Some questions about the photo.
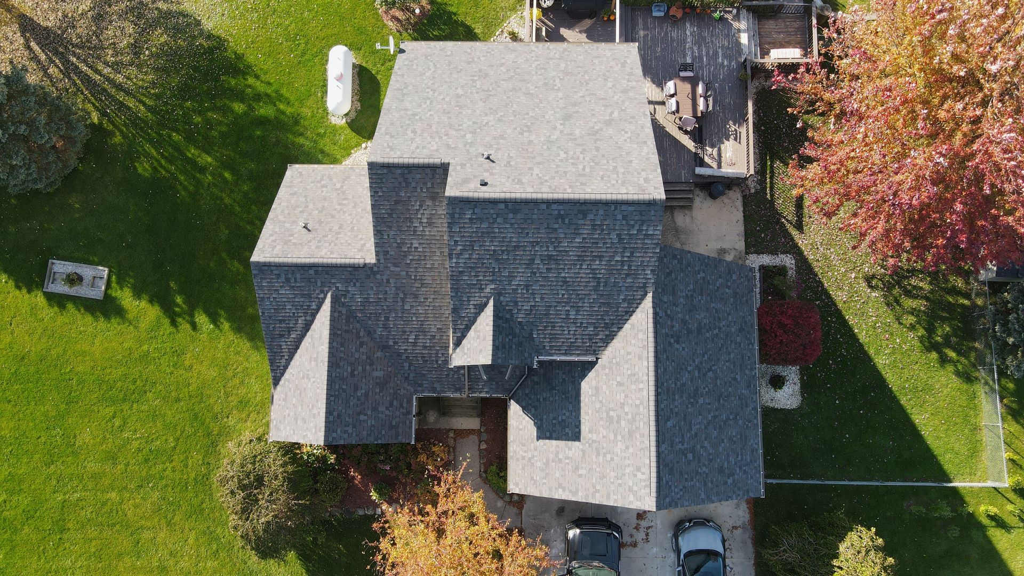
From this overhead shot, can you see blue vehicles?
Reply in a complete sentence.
Yes, I can see a blue vehicle in this picture.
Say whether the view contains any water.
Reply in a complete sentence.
No, no water is visible.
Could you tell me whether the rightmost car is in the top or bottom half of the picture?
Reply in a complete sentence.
You can find the rightmost car in the bottom half.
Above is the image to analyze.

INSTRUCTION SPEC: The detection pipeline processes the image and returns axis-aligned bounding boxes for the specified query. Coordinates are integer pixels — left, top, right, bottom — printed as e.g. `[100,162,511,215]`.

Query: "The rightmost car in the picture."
[671,516,740,576]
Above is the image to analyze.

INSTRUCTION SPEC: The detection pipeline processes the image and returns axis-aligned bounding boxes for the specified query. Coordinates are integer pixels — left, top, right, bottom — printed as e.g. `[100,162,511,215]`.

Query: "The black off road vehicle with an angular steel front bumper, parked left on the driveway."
[563,516,624,576]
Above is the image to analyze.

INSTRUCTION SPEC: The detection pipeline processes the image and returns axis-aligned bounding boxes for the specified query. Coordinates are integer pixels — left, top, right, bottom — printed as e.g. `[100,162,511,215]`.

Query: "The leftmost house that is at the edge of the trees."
[251,38,768,511]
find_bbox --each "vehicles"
[671,516,740,576]
[563,516,624,576]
